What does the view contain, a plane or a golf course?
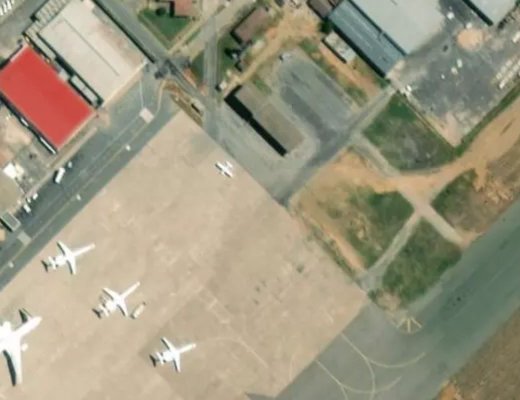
plane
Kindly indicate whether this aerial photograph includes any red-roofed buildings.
Yes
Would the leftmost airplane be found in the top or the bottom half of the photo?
bottom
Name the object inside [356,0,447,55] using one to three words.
building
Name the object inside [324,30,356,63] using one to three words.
shed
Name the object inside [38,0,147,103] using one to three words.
building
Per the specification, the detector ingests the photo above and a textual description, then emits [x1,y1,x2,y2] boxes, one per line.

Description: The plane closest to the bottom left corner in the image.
[0,316,42,383]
